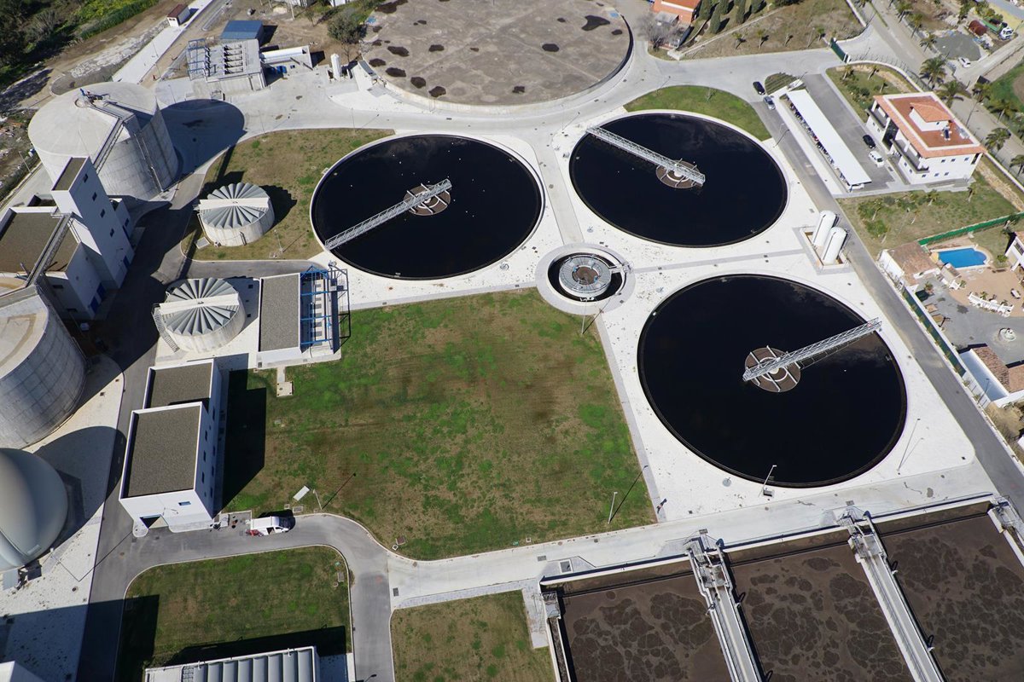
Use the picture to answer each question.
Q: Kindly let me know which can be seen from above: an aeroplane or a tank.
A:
tank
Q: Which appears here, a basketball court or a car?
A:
car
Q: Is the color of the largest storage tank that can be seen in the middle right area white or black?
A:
black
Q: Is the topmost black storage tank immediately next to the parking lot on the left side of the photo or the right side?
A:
right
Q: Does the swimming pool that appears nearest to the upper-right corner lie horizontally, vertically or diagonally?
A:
horizontally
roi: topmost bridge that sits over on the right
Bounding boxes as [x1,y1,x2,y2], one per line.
[584,124,707,184]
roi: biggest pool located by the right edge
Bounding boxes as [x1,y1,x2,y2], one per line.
[932,246,989,269]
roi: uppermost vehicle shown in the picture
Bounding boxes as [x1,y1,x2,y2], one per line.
[979,13,1017,34]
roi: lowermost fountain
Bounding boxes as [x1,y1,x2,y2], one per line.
[999,326,1018,340]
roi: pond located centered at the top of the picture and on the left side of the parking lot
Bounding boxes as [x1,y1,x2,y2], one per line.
[347,0,636,118]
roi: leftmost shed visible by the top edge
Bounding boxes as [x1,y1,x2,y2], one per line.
[165,1,191,26]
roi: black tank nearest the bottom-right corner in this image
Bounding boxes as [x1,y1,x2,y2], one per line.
[631,272,913,492]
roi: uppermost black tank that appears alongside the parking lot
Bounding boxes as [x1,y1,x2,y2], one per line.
[567,110,790,252]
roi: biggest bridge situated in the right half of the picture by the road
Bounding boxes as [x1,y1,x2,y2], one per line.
[740,315,885,381]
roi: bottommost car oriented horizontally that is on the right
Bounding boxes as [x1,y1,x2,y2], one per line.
[846,182,875,197]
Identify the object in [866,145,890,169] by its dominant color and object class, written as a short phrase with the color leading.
white vehicle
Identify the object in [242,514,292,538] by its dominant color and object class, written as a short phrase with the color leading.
white vehicle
